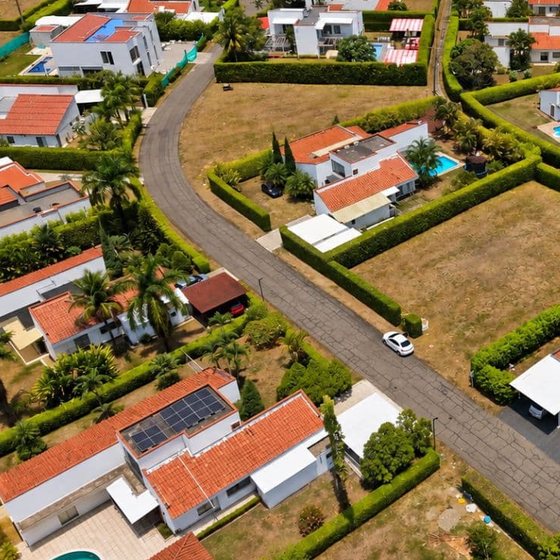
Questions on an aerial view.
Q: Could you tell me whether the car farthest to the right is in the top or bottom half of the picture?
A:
bottom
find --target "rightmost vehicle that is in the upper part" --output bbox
[260,178,283,199]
